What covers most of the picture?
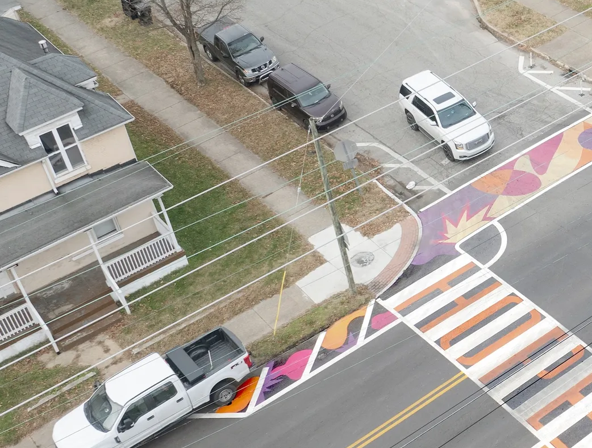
paved ground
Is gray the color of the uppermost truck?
Yes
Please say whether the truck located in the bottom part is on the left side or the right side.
left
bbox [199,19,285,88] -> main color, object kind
gray truck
